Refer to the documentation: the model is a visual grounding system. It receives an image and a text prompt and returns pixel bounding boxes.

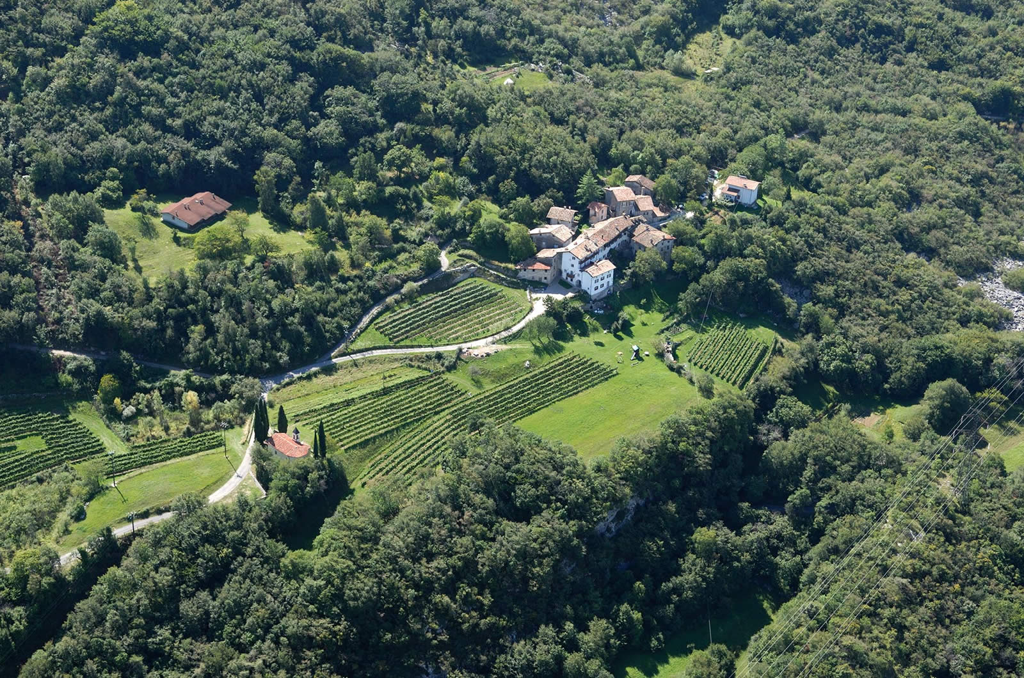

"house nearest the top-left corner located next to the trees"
[162,192,232,230]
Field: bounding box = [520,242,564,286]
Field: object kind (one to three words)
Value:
house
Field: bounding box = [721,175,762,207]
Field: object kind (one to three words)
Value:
house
